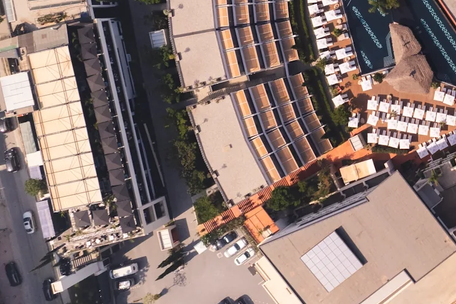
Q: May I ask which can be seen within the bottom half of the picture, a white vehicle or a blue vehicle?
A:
white vehicle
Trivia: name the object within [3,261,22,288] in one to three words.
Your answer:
car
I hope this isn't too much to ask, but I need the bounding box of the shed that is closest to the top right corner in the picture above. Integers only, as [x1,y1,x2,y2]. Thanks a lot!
[389,23,423,63]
